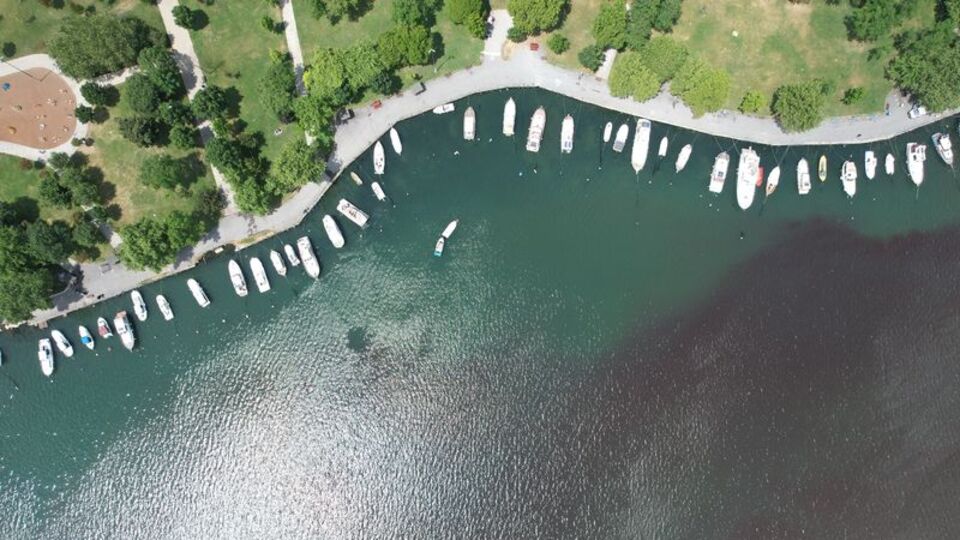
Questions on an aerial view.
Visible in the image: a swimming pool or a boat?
boat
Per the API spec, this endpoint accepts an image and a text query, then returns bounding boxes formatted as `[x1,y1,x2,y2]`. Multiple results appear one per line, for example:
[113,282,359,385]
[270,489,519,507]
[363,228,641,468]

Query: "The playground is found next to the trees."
[0,53,89,165]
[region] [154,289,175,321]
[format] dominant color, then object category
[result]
white boat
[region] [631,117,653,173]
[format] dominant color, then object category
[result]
white boat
